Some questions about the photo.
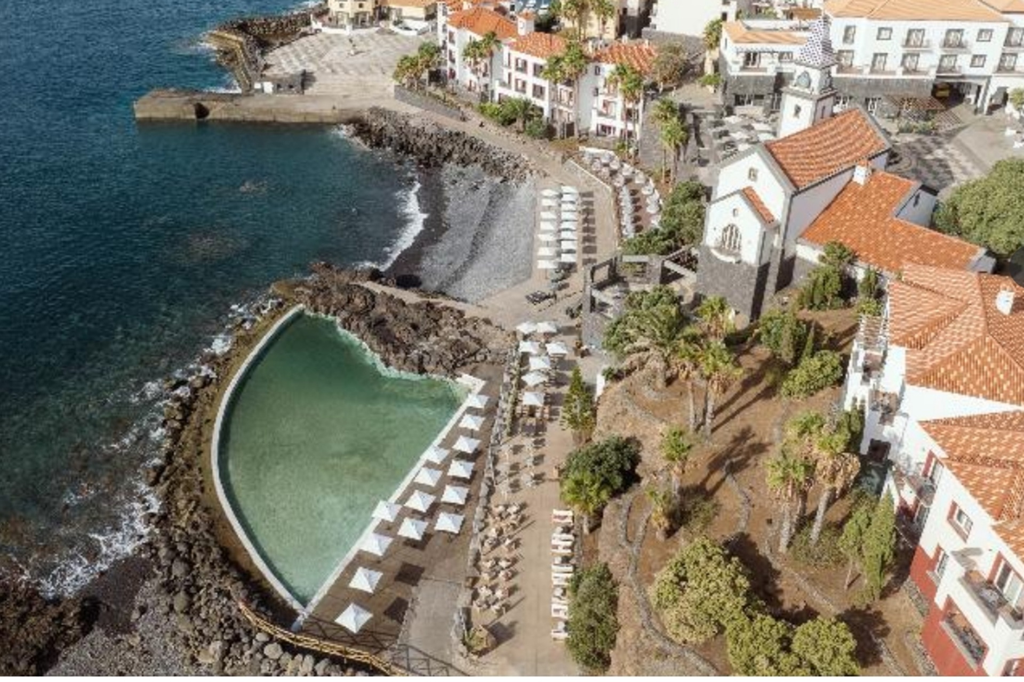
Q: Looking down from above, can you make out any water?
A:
Yes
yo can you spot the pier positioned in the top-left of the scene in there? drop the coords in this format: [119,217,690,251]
[134,88,380,122]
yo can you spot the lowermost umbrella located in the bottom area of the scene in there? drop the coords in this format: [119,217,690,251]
[333,607,371,642]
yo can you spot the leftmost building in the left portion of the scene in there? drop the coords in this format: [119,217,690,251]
[274,69,316,95]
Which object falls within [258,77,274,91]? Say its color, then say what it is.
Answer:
white vehicle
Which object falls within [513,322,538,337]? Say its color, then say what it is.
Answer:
white umbrella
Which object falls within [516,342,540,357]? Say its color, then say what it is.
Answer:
white umbrella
